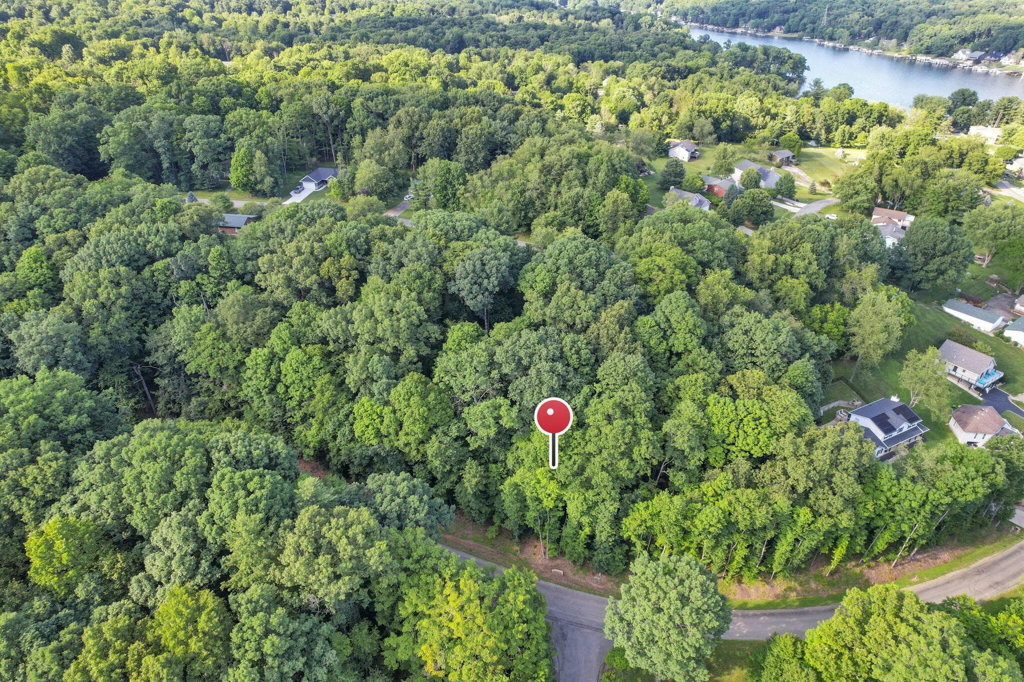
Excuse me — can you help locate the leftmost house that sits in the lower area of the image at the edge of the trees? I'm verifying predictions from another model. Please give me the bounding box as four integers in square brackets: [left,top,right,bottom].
[847,394,935,468]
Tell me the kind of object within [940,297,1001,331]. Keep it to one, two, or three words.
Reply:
building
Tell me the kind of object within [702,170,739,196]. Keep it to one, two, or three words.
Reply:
house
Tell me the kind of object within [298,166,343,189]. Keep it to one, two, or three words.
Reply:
house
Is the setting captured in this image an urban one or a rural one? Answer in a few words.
rural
